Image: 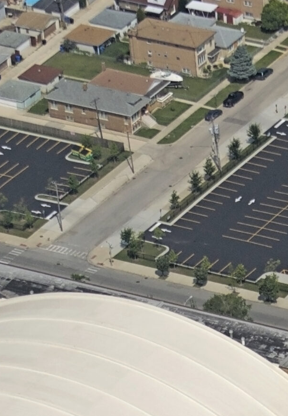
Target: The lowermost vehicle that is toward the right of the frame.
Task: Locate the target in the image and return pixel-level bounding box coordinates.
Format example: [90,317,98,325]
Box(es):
[205,109,224,122]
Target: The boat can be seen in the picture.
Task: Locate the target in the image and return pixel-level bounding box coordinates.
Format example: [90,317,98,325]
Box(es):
[151,70,187,88]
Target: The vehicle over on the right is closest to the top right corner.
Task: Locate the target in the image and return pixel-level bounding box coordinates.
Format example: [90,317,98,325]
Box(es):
[257,68,275,82]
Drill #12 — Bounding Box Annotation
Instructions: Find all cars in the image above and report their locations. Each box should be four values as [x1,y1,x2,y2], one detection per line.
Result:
[257,68,275,82]
[205,109,224,122]
[224,90,244,107]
